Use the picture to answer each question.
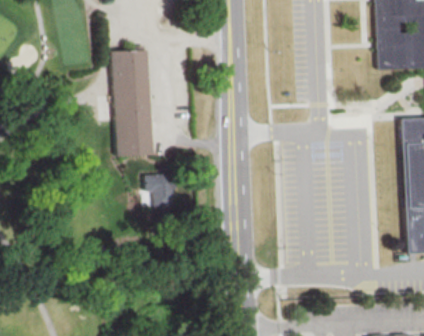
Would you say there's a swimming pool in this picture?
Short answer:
No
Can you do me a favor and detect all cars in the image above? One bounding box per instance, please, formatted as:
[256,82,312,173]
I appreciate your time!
[224,118,229,129]
[179,114,190,120]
